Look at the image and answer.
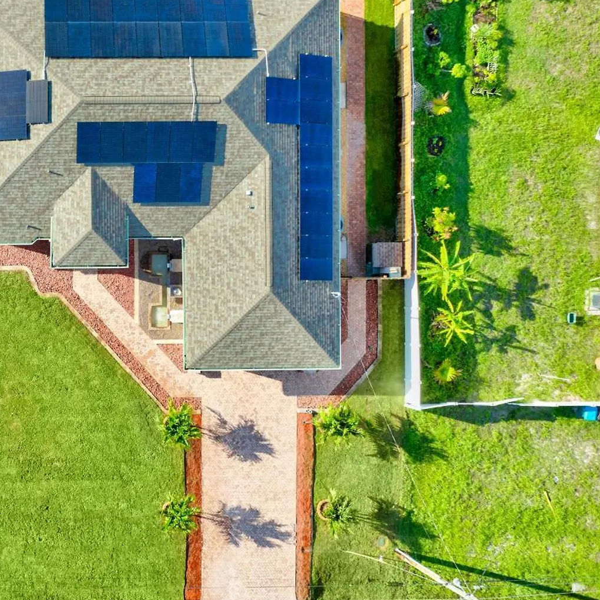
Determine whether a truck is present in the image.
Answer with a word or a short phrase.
No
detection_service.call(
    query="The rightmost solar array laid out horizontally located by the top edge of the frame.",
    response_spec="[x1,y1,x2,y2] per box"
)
[45,0,253,59]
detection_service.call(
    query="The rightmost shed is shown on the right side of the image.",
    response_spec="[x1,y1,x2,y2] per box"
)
[364,244,399,270]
